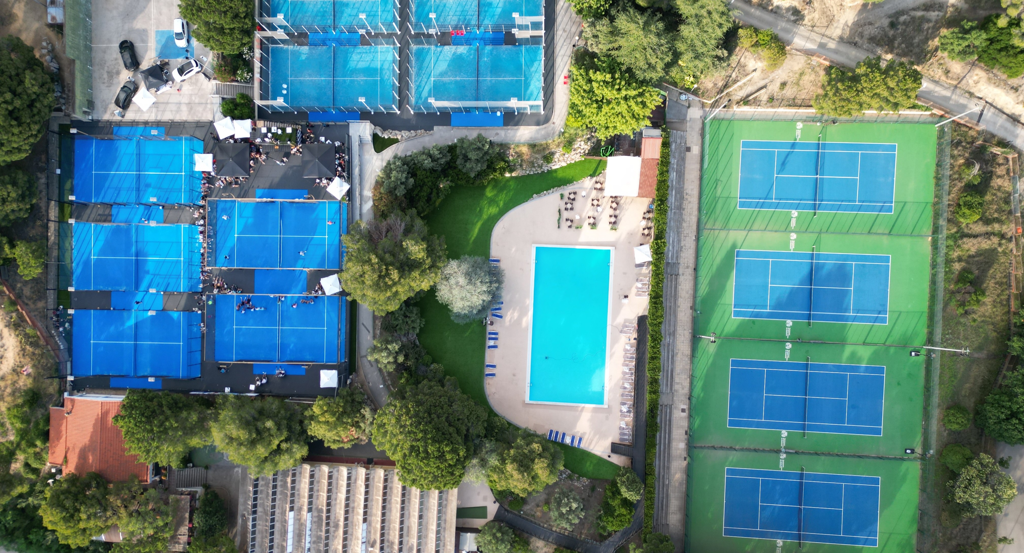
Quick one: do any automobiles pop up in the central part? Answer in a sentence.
No, no automobile can be made out in the central part.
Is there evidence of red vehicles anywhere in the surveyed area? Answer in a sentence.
No, the frame has no red vehicle in it.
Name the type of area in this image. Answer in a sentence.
What you see here is a sports ground.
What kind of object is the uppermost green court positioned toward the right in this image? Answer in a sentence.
Looking closely, the uppermost green court positioned toward the right is a tennis court.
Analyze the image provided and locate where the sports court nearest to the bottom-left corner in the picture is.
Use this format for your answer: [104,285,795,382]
[54,310,202,382]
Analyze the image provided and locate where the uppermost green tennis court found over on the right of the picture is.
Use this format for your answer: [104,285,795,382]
[700,120,937,235]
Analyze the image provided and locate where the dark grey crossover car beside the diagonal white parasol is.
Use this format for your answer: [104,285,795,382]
[113,80,134,109]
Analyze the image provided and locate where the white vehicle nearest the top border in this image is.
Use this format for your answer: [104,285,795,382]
[171,16,188,47]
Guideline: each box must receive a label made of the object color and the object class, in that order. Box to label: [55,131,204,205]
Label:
blue sports court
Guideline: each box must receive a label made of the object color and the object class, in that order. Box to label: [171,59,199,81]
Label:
white car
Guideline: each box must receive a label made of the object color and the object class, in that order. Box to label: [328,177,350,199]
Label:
white umbrella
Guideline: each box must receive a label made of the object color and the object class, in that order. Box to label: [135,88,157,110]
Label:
white umbrella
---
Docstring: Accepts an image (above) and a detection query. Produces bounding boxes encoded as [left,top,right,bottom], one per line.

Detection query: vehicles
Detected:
[113,80,134,109]
[171,16,188,47]
[171,59,199,81]
[117,39,137,70]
